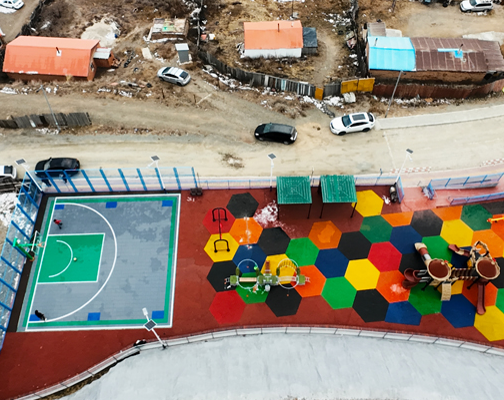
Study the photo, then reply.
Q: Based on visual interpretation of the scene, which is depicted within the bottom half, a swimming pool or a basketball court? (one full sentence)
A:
Looking within the bottom half, you will find a basketball court.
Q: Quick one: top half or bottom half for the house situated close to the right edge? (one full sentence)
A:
It is in the top half that the house situated close to the right edge appears.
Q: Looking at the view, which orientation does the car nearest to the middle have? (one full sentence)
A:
I'd say the car nearest to the middle is aligned from left to right in the picture.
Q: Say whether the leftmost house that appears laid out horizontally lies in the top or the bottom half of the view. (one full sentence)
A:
The leftmost house that appears laid out horizontally is in the top half of the image.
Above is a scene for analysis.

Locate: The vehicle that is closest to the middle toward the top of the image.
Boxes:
[256,122,297,144]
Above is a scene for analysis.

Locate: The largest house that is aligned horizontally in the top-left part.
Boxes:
[1,36,101,83]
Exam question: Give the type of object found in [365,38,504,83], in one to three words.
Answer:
house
